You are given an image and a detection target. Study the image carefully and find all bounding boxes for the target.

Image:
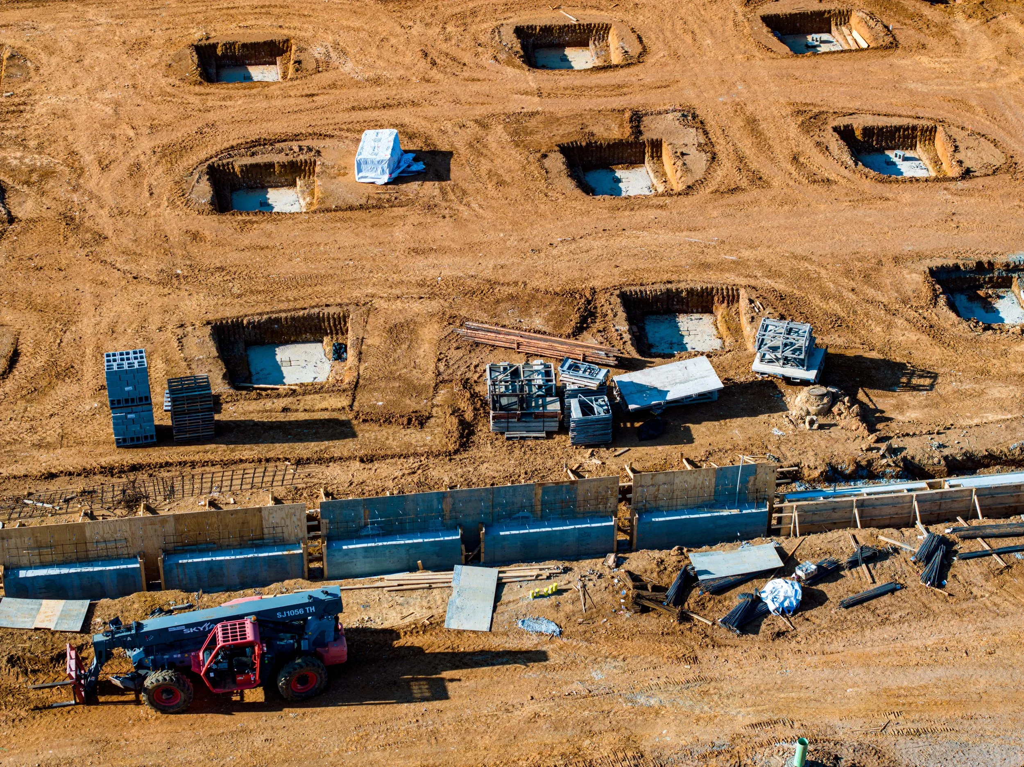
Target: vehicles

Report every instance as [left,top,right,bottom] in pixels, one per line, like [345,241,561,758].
[29,585,347,715]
